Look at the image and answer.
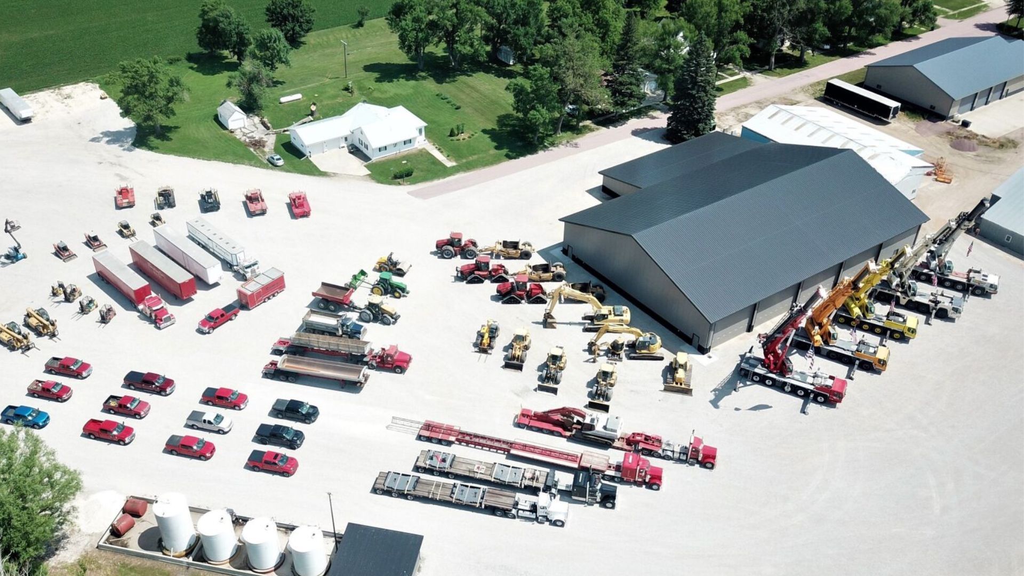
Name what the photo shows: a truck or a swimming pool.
truck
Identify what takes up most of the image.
paved ground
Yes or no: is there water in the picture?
No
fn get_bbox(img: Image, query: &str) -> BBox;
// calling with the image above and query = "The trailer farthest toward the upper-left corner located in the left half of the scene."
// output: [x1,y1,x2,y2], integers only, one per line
[0,88,36,126]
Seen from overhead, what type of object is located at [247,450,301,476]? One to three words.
truck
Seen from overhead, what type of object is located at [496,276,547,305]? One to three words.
work vehicle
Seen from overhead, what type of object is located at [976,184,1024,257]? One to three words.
building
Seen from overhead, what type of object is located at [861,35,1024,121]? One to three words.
building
